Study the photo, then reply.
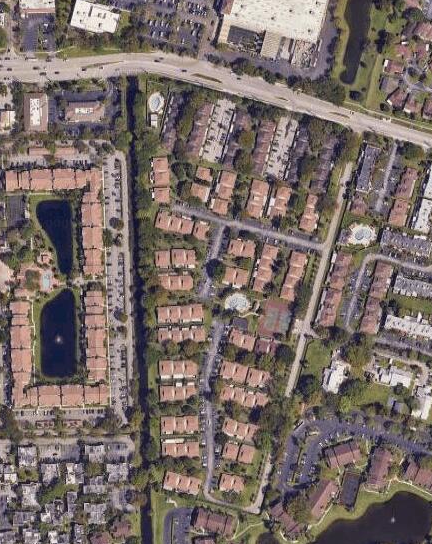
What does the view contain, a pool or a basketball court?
pool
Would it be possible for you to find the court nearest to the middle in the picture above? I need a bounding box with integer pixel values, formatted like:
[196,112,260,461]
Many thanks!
[258,301,292,339]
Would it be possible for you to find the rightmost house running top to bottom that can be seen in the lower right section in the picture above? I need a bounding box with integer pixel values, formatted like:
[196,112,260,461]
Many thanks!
[413,381,432,422]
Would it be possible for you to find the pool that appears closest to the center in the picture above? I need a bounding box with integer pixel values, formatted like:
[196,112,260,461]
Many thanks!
[225,294,250,312]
